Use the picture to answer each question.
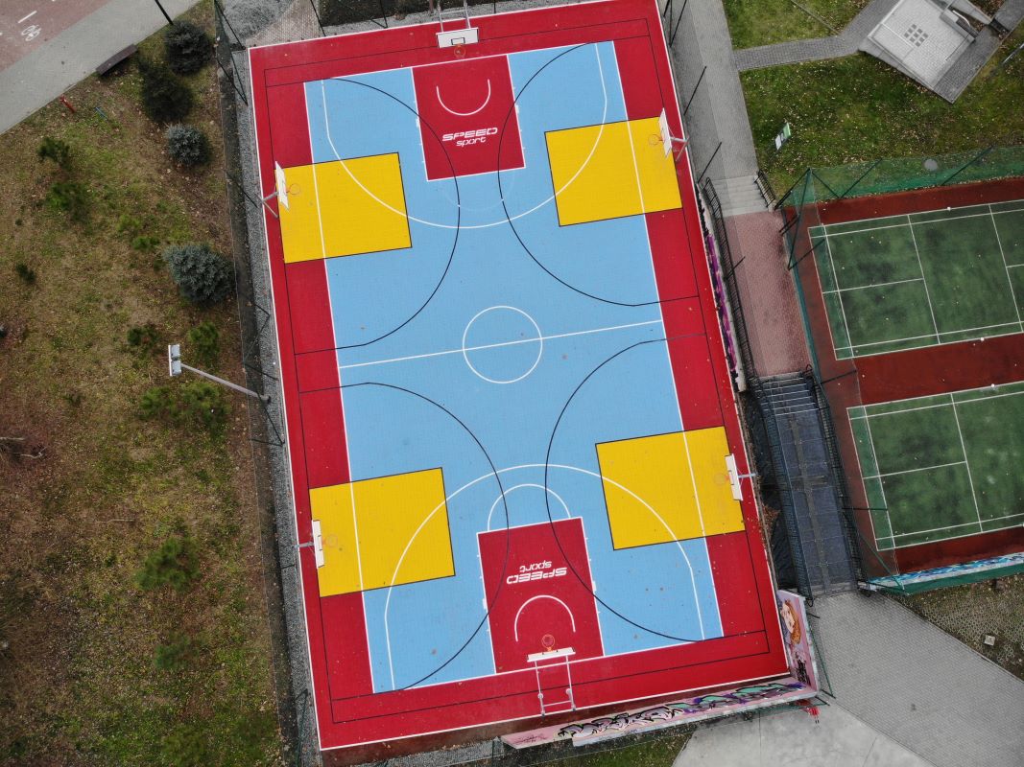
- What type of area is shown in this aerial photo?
sports ground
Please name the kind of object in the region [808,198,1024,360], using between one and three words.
sports court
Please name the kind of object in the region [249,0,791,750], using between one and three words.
basketball court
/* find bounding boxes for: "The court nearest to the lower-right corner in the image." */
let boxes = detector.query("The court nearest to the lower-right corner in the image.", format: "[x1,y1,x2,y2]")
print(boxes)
[847,382,1024,551]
